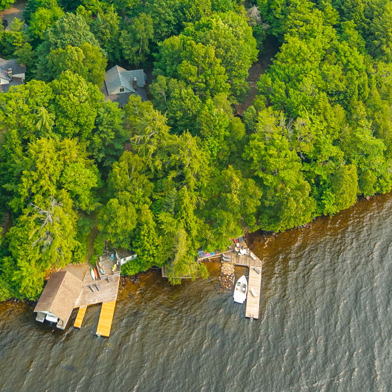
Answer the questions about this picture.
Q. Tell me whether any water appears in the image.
Yes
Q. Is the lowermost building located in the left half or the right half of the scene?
left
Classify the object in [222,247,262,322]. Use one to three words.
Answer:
pier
